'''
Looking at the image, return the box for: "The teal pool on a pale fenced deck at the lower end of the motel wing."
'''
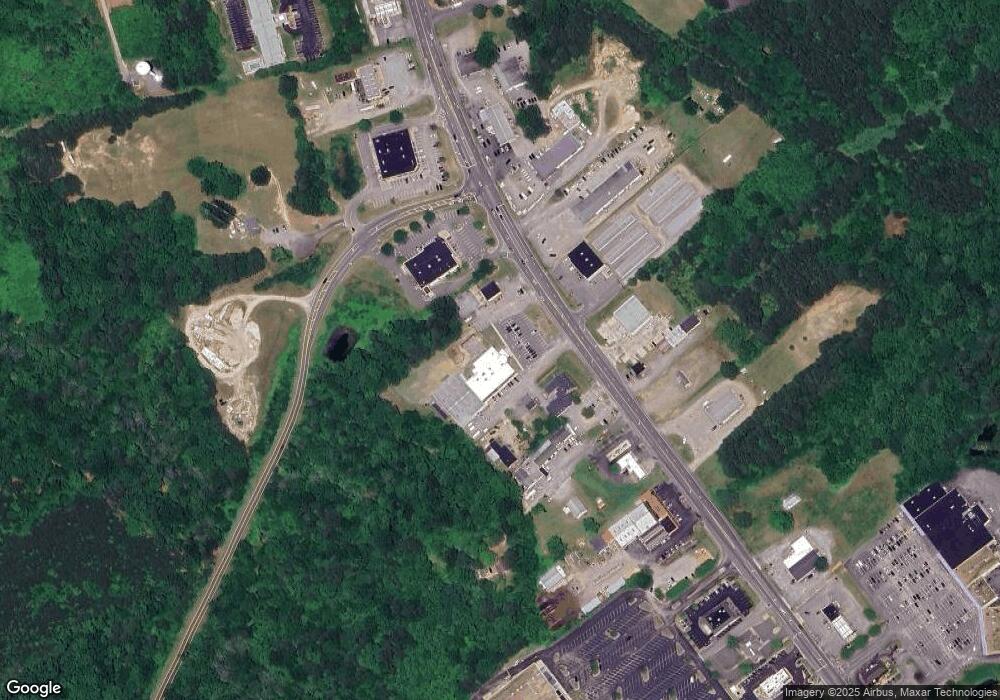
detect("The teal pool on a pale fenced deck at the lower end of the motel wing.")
[241,58,265,74]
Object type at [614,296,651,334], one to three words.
building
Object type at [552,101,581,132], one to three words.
building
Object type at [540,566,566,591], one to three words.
barn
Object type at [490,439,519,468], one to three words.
house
